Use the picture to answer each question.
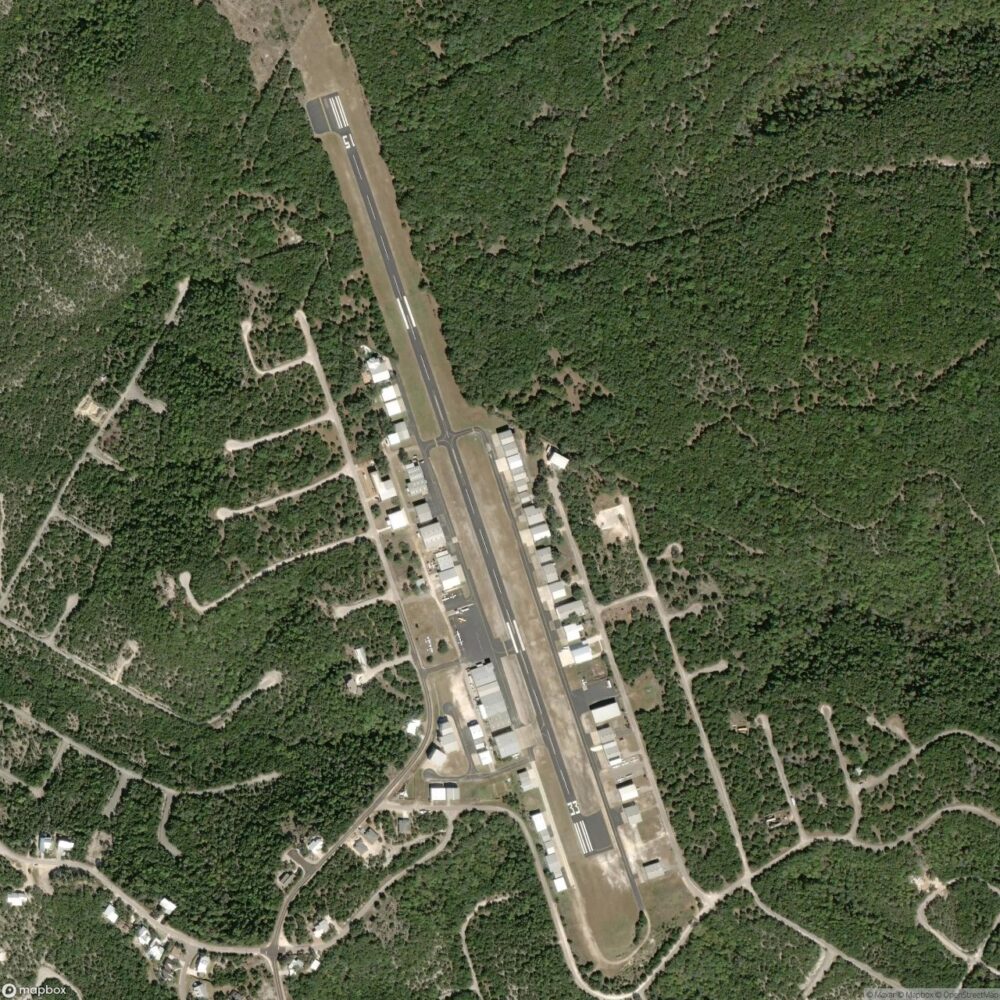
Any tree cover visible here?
Yes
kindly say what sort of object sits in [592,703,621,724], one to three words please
hangar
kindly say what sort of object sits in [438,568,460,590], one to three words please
hangar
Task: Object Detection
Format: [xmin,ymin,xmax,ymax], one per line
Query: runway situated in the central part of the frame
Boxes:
[331,94,593,854]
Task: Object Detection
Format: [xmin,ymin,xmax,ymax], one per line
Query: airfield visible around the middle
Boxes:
[291,6,697,978]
